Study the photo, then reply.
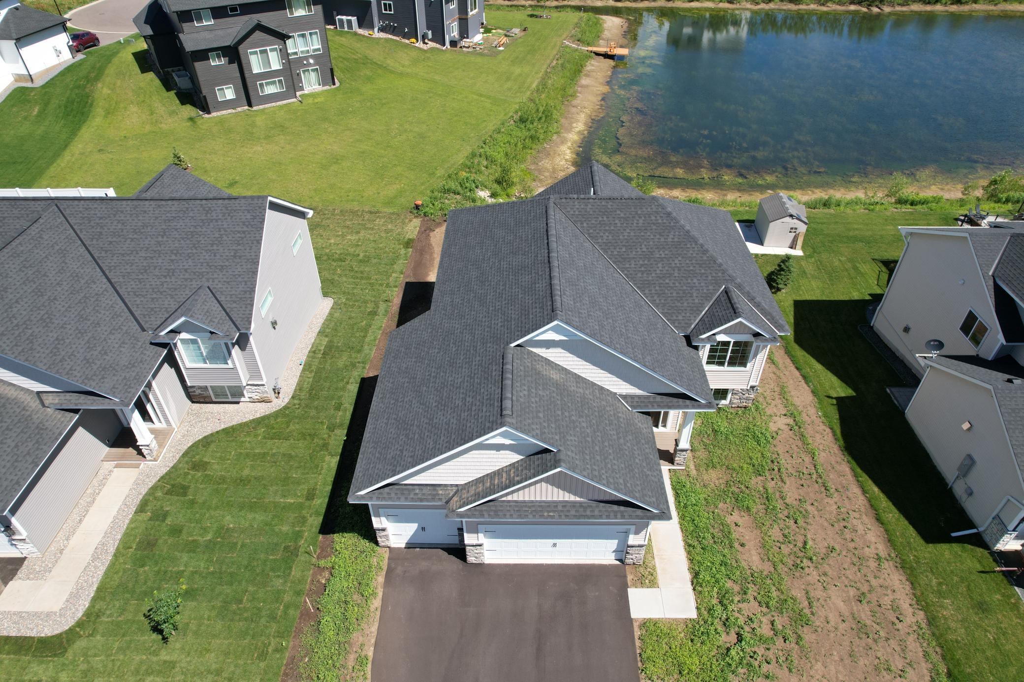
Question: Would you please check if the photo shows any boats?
No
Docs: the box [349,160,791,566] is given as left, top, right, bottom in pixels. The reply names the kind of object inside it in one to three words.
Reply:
house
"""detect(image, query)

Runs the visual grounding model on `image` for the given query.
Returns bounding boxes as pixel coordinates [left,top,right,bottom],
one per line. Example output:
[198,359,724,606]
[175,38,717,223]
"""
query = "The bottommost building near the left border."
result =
[0,160,325,557]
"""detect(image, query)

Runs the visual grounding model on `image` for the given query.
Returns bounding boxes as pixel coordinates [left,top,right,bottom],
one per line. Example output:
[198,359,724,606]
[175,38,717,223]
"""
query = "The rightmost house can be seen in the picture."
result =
[871,209,1024,562]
